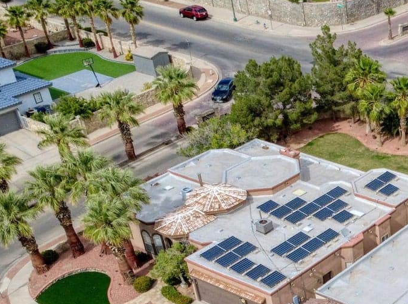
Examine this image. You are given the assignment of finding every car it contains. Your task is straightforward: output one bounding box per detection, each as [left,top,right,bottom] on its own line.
[179,5,210,21]
[211,81,243,104]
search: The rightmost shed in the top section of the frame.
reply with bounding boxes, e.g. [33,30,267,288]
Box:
[130,42,170,75]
